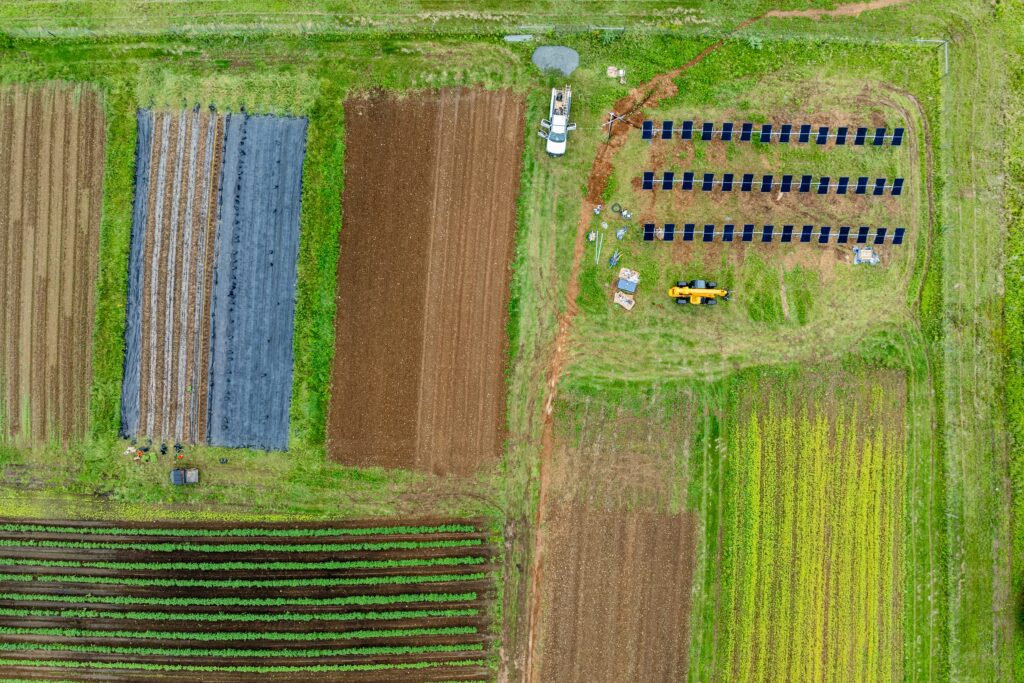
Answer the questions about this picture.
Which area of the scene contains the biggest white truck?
top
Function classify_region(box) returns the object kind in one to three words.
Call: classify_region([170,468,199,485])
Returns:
vehicle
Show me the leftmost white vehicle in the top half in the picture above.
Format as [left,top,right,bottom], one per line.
[537,87,576,159]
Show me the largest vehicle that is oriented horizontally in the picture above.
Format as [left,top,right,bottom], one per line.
[669,280,736,304]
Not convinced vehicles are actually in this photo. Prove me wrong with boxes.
[537,87,576,159]
[669,280,736,304]
[170,468,199,485]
